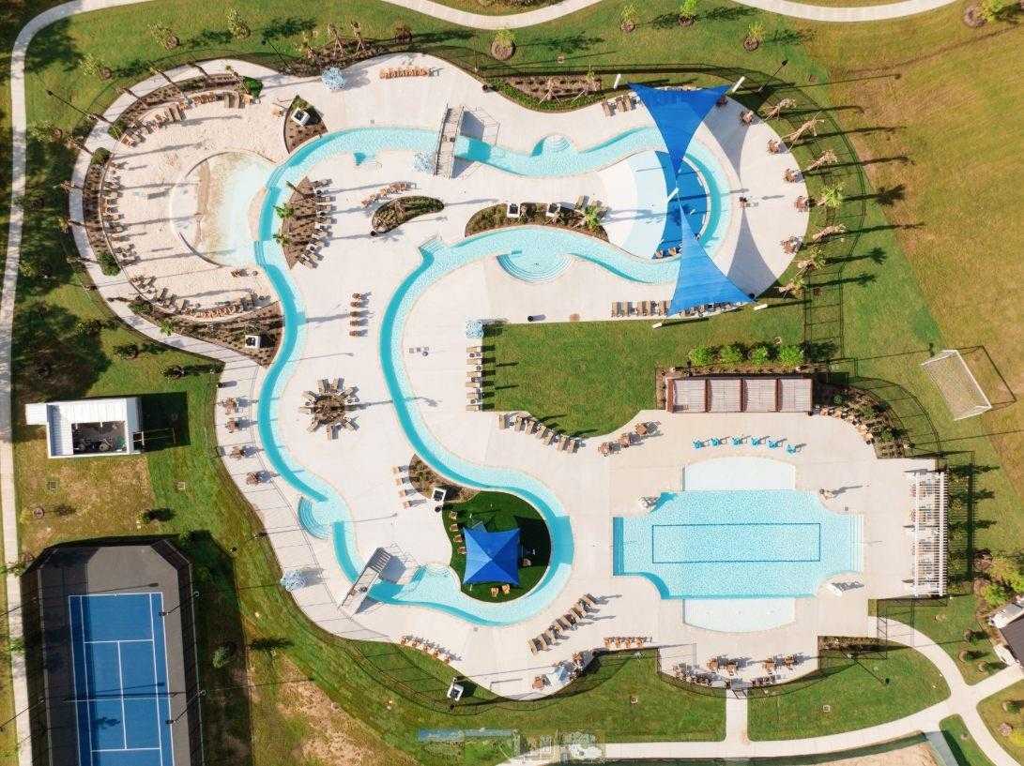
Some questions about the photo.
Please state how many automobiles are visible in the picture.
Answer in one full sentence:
There are no automobiles in the image.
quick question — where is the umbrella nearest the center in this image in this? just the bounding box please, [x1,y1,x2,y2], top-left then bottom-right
[466,320,482,336]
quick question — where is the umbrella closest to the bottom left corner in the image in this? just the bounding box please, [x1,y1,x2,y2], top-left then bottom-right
[282,569,305,593]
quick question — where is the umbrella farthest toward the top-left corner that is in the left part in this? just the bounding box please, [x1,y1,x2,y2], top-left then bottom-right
[321,68,345,90]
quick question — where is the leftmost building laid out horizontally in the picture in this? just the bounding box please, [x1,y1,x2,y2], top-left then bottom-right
[28,399,155,458]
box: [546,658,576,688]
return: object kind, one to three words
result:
umbrella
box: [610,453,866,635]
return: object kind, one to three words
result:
swimming pool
